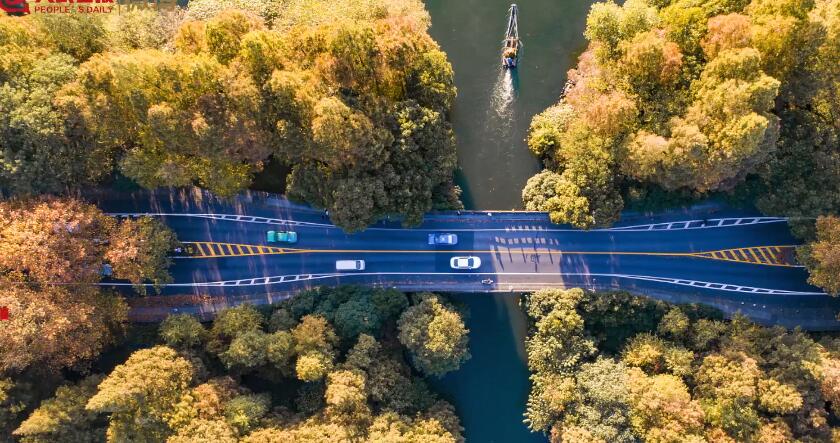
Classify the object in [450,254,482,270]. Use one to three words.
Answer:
car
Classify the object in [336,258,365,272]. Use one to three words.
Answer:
vehicle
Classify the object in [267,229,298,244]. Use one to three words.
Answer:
car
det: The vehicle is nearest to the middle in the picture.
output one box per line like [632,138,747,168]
[427,231,457,245]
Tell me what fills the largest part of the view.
trees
